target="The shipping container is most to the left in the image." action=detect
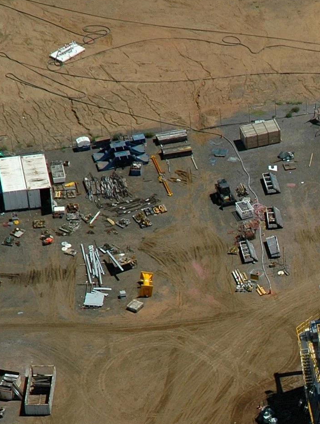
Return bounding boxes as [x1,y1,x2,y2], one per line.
[0,155,29,210]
